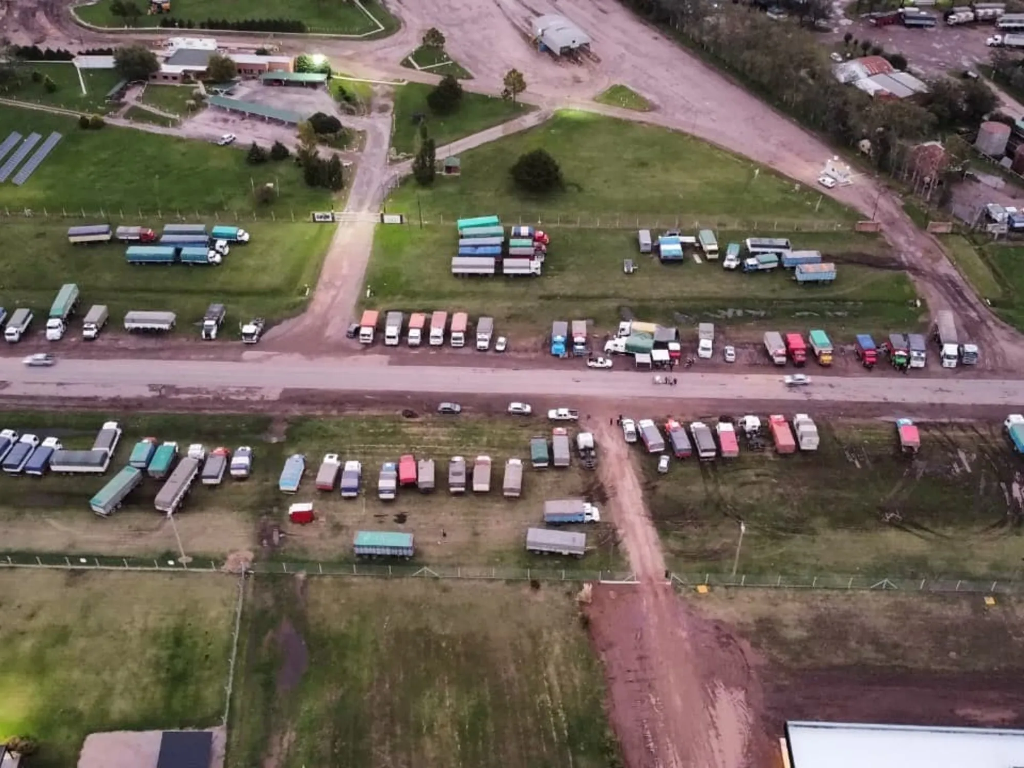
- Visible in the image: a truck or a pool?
truck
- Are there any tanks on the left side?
No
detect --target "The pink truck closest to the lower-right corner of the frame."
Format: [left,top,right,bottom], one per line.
[895,422,922,452]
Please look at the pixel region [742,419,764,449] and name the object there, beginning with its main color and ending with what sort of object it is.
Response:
white truck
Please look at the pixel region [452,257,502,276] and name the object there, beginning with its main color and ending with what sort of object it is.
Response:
white trailer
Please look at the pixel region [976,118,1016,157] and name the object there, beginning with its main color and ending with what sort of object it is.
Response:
gray storage tank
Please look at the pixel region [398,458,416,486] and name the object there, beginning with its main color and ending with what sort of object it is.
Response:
red vehicle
